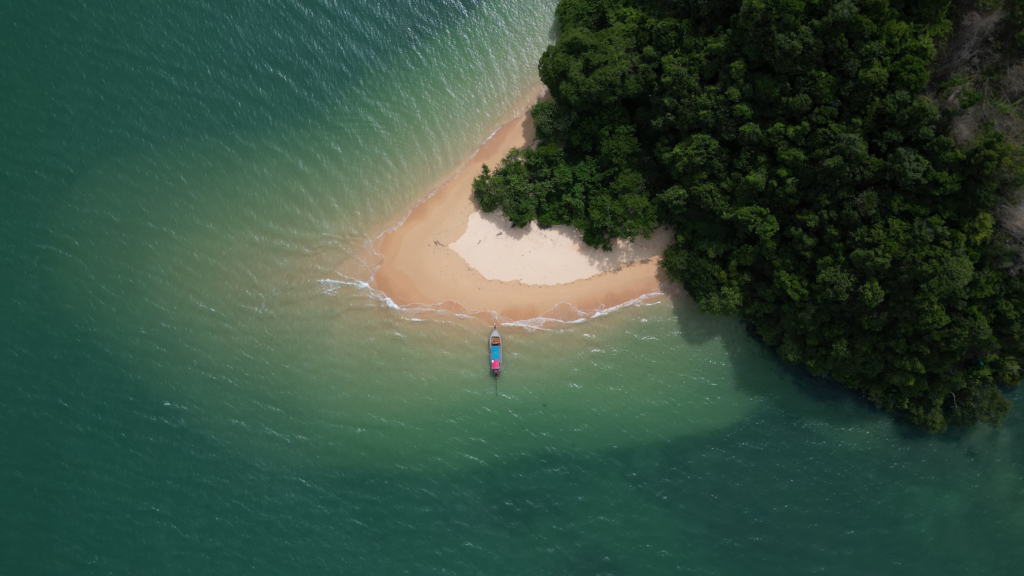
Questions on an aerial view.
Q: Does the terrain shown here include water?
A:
Yes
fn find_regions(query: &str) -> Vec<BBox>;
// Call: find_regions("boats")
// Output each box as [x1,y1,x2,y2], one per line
[489,323,502,388]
